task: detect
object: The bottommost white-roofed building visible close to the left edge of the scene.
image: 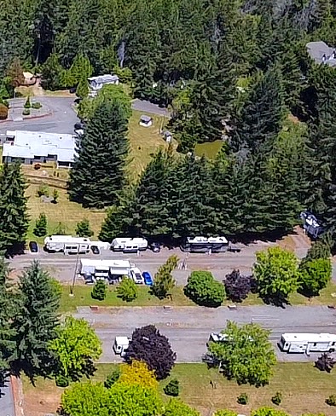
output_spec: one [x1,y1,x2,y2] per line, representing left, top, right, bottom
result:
[2,131,77,169]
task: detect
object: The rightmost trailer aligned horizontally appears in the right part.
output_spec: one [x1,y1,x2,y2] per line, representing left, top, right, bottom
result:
[279,335,336,352]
